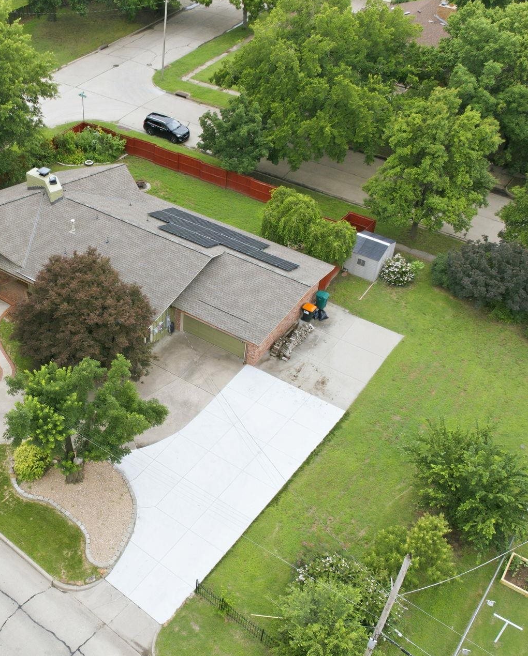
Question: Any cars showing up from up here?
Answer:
Yes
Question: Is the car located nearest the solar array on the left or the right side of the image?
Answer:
left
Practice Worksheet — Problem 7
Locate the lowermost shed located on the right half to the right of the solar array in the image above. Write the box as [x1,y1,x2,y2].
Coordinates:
[346,234,397,280]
